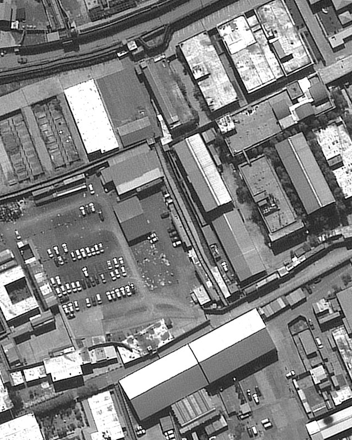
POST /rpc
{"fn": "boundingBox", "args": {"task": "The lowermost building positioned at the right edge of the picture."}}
[305,406,352,440]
